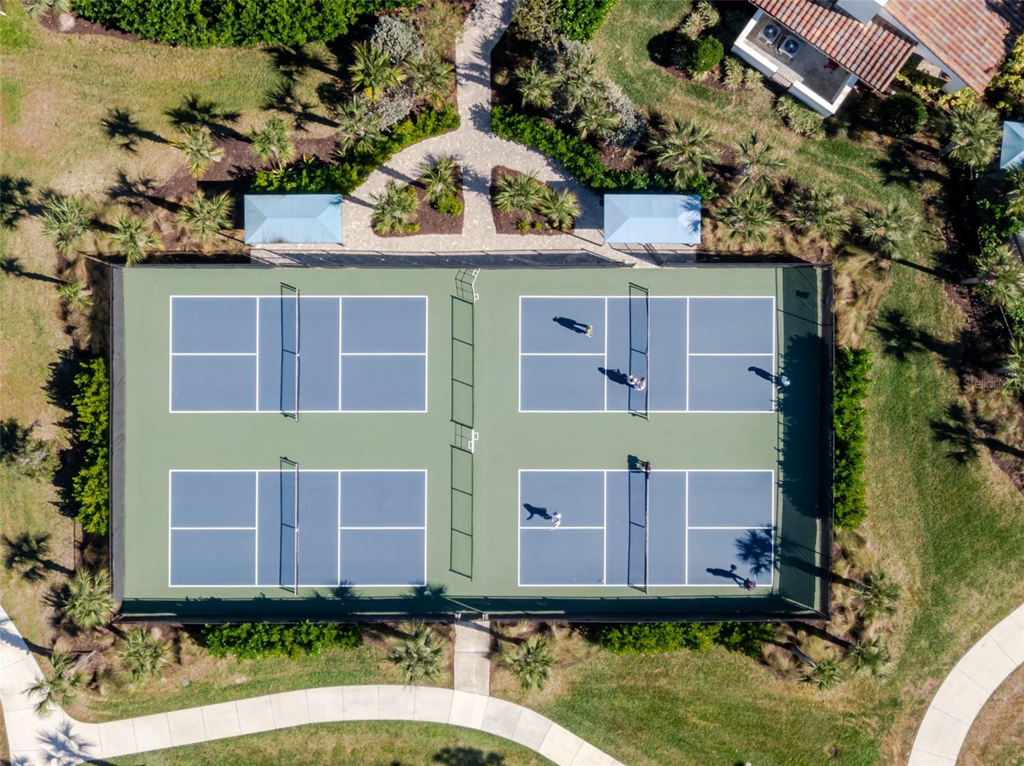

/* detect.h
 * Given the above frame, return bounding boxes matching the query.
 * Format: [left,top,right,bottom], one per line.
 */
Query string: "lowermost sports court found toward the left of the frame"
[170,470,426,587]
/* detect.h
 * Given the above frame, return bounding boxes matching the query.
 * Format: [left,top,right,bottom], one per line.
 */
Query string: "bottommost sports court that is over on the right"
[518,470,774,587]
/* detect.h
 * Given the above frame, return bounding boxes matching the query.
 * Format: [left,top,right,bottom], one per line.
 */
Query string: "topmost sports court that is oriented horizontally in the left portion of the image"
[170,296,427,413]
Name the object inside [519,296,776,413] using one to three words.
sports court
